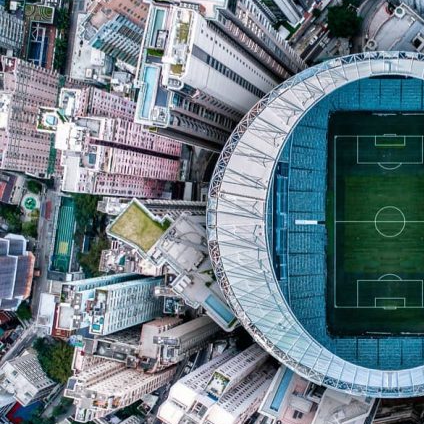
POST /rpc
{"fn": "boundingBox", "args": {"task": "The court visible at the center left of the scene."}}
[47,195,76,274]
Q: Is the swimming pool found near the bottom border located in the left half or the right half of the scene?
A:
right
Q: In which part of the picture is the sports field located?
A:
right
